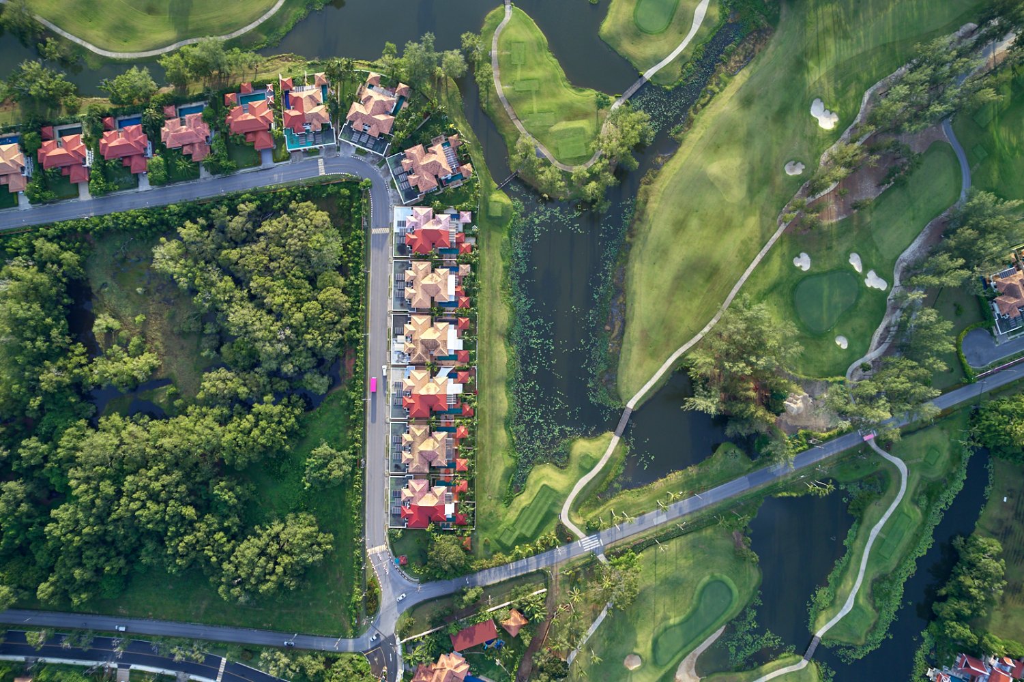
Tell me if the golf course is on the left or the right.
right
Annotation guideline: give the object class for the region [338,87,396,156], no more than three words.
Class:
house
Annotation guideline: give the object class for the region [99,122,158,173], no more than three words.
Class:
house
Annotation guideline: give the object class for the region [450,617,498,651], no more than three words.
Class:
building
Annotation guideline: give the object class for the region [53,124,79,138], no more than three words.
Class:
swimming pool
